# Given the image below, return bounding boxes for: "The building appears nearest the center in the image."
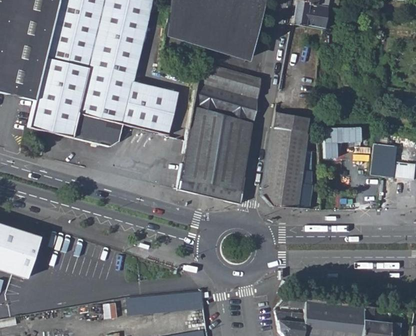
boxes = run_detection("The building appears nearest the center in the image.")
[180,108,253,205]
